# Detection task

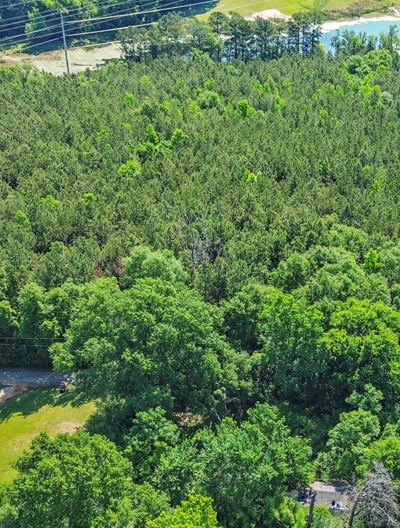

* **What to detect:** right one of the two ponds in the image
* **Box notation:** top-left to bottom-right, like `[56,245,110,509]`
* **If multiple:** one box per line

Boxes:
[179,22,400,76]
